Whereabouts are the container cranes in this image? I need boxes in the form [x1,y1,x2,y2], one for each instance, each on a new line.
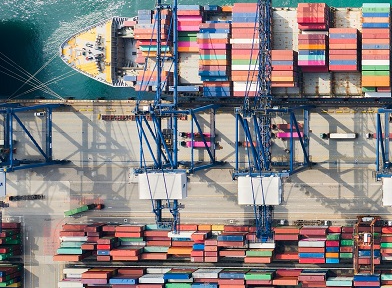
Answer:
[353,211,385,275]
[231,0,319,242]
[373,104,392,208]
[129,0,232,231]
[0,103,76,200]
